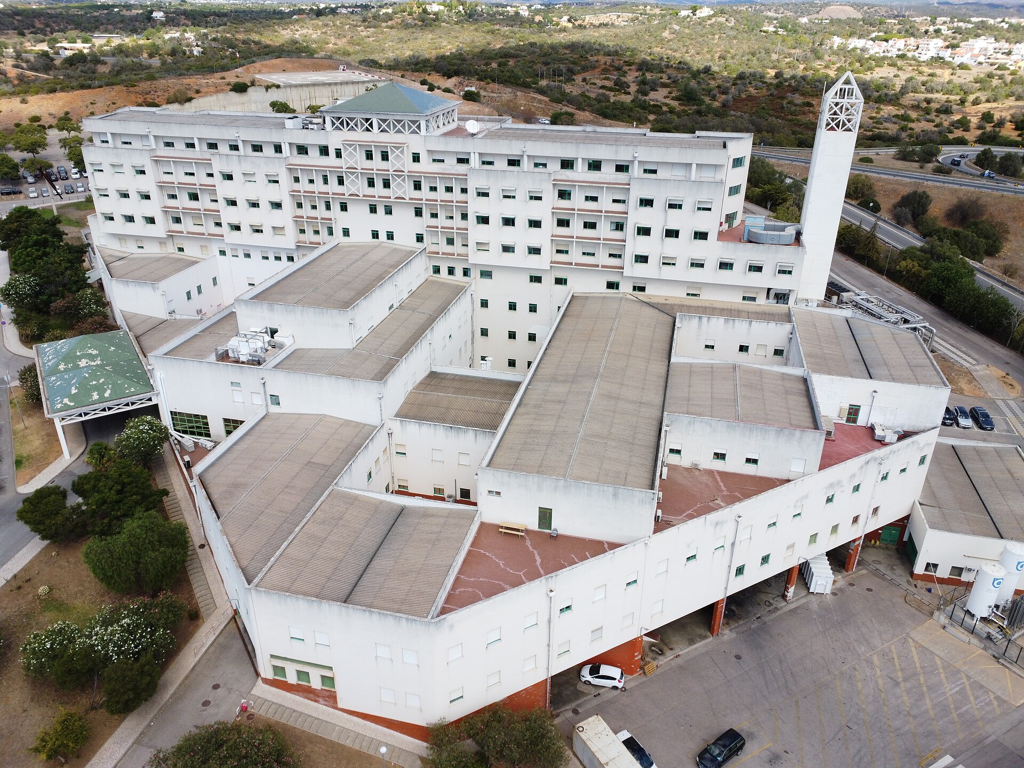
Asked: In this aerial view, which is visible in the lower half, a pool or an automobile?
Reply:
automobile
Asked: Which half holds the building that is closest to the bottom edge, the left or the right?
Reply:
right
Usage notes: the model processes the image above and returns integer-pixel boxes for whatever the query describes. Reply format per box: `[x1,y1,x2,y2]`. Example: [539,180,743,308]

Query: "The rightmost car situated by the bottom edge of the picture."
[695,721,748,768]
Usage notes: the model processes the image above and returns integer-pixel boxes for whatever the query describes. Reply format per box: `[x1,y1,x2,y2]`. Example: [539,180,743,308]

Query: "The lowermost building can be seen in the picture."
[905,438,1024,588]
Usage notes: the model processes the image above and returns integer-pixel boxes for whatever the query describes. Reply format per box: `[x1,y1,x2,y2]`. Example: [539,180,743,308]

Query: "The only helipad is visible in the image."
[255,70,396,87]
